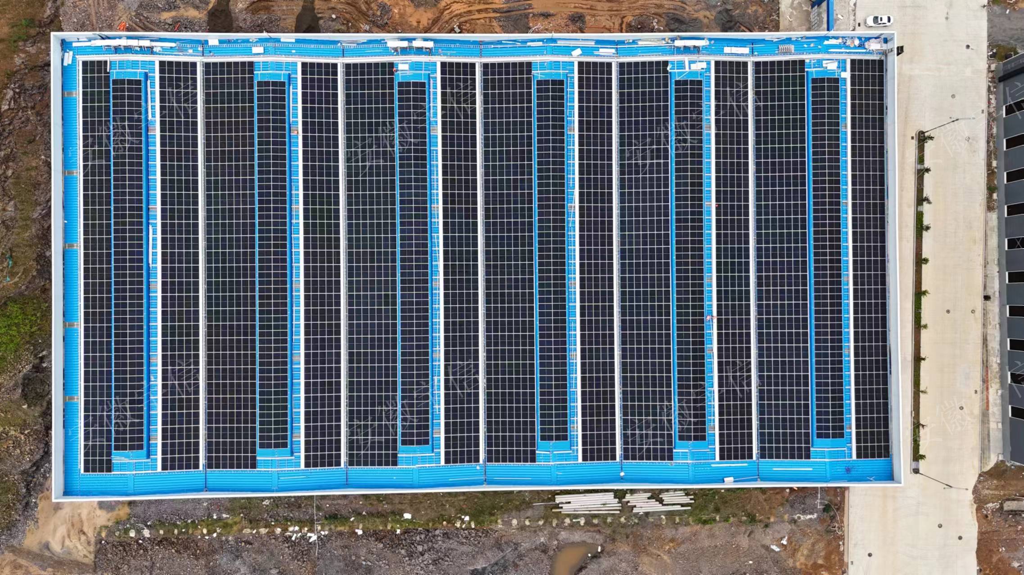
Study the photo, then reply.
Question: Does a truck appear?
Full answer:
No, there appears to be no truck in this shot.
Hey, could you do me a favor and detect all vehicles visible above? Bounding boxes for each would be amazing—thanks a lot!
[864,14,893,28]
